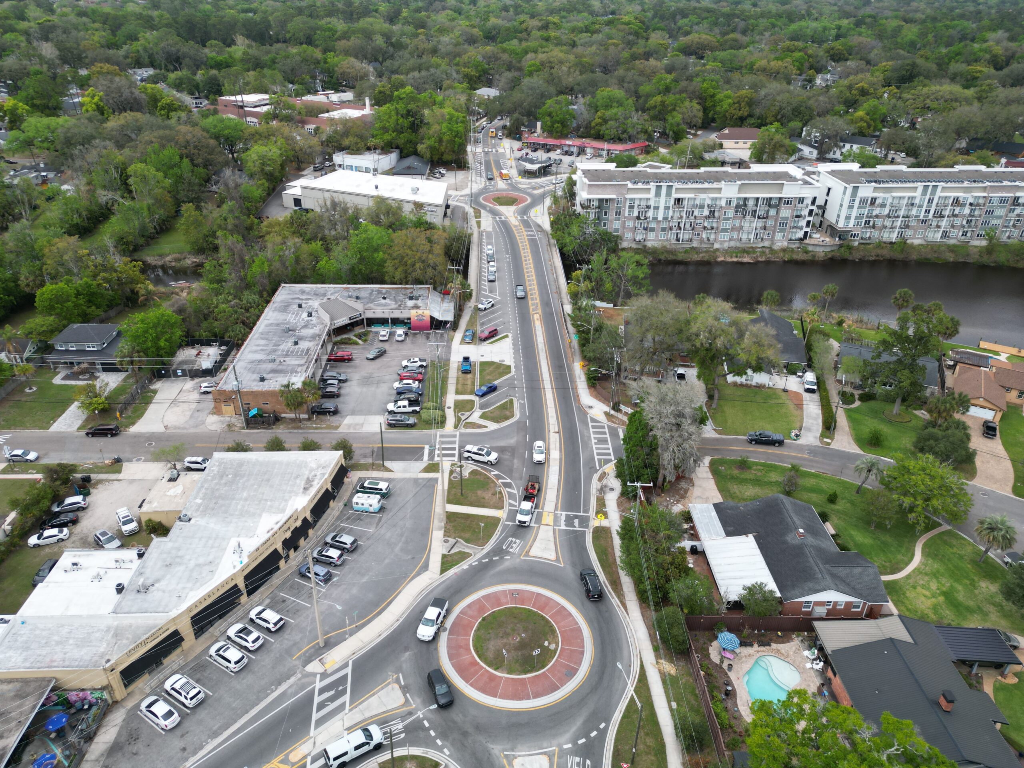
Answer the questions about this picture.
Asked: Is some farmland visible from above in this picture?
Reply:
No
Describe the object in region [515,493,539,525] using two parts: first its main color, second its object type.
white truck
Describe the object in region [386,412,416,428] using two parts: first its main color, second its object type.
gray car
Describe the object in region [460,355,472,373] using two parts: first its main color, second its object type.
blue vehicle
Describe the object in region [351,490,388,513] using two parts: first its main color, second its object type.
white camper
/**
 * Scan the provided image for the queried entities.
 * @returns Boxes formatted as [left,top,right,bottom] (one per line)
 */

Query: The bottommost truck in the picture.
[323,725,384,768]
